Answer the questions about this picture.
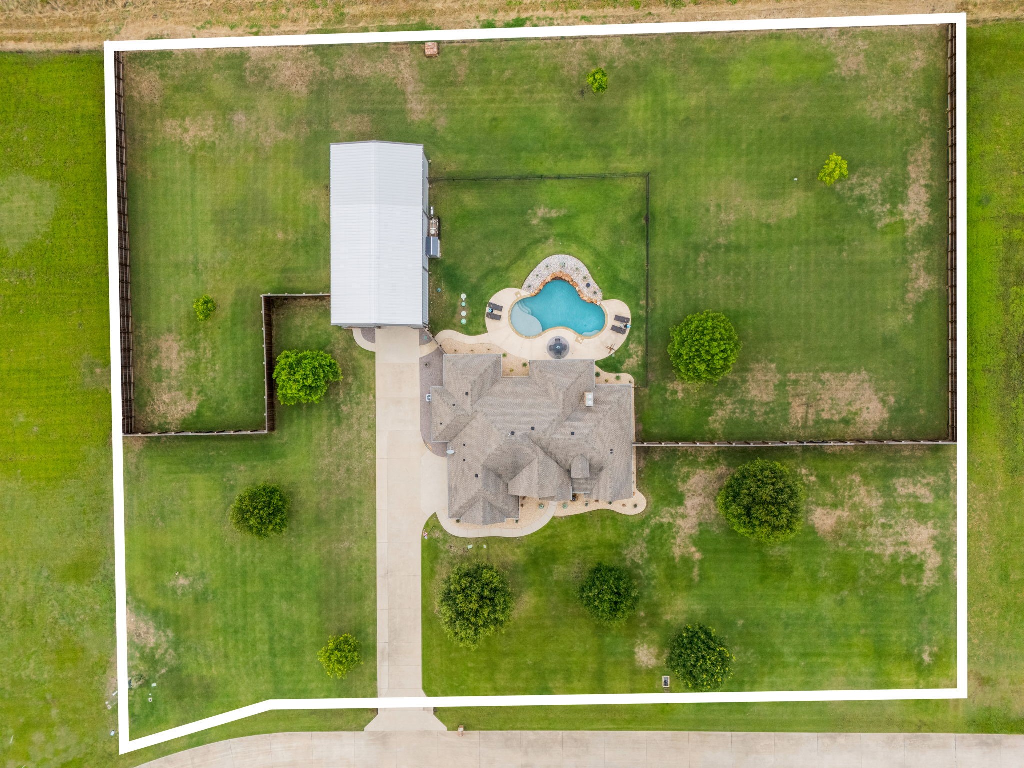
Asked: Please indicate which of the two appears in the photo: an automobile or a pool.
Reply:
pool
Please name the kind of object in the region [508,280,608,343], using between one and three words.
swimming pool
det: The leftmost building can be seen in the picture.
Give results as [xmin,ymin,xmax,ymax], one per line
[329,139,431,331]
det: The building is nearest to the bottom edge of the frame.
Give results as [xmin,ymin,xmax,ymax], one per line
[430,353,633,527]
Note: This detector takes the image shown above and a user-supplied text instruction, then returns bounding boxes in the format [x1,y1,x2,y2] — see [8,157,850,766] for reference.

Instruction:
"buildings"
[430,353,633,527]
[329,139,431,331]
